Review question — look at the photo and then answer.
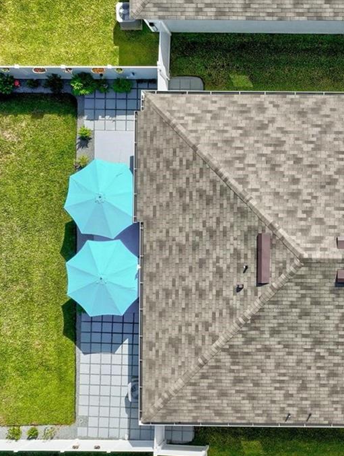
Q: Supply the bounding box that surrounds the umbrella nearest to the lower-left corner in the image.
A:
[68,241,140,316]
